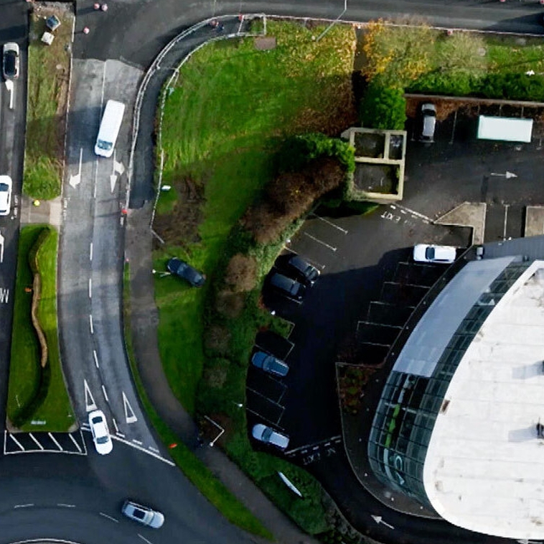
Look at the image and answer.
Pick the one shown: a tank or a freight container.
freight container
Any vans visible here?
Yes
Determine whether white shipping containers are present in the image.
Yes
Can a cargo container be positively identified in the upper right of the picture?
Yes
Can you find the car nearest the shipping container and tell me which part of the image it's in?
top right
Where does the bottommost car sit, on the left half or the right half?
left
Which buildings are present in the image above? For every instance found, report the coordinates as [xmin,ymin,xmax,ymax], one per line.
[369,233,544,540]
[347,126,407,205]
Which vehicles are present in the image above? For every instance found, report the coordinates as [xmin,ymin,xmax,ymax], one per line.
[412,243,457,264]
[284,252,322,285]
[93,96,123,158]
[121,499,163,526]
[266,271,305,298]
[249,350,291,376]
[0,42,20,83]
[89,408,111,453]
[249,424,291,451]
[0,176,12,215]
[416,104,439,144]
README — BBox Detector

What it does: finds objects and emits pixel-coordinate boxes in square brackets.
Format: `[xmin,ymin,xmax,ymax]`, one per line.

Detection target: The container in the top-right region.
[473,116,533,142]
